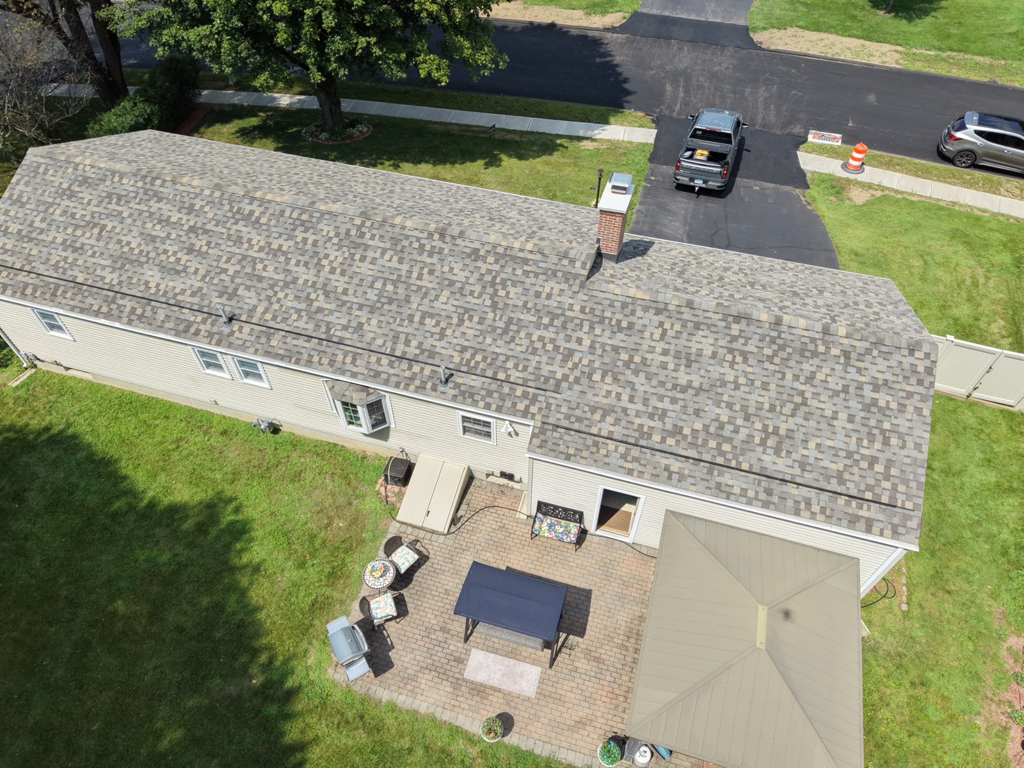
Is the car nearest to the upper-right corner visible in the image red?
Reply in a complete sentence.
No, the car nearest to the upper-right corner is actually gray.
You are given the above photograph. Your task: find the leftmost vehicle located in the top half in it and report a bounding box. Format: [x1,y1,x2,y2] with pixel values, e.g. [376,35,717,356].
[675,101,750,194]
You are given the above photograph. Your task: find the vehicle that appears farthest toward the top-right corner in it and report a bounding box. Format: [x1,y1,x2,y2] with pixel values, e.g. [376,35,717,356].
[939,114,1024,180]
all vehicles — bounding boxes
[675,101,750,194]
[939,114,1024,180]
